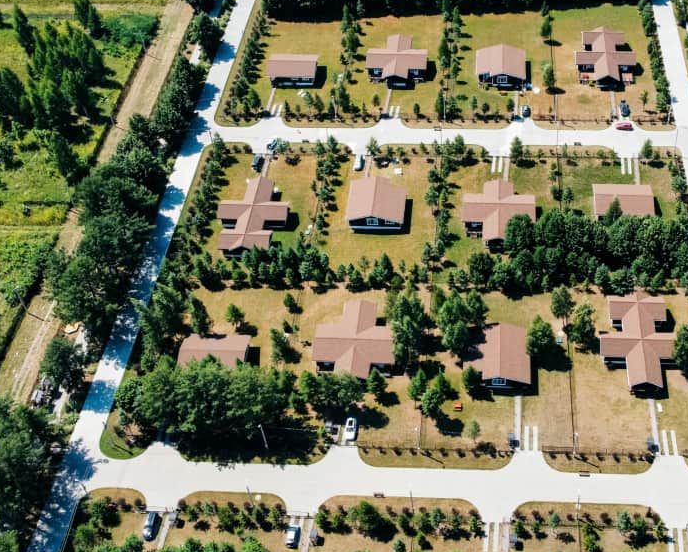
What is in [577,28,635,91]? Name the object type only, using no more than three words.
house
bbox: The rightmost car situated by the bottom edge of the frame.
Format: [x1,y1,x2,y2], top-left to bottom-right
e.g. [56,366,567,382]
[284,519,302,548]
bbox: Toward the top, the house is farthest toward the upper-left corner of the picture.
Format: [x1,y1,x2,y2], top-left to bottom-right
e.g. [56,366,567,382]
[265,55,320,89]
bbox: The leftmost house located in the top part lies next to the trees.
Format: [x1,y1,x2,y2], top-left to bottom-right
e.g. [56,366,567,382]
[215,177,289,259]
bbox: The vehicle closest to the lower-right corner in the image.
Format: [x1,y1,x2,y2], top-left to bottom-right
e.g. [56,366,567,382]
[343,416,358,441]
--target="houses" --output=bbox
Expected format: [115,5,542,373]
[462,322,533,396]
[344,176,408,235]
[366,33,429,89]
[176,330,253,383]
[577,28,635,91]
[312,299,396,393]
[215,177,289,259]
[601,293,681,401]
[475,43,526,90]
[462,177,536,249]
[265,55,320,89]
[592,184,655,223]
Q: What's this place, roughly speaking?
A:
residential area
